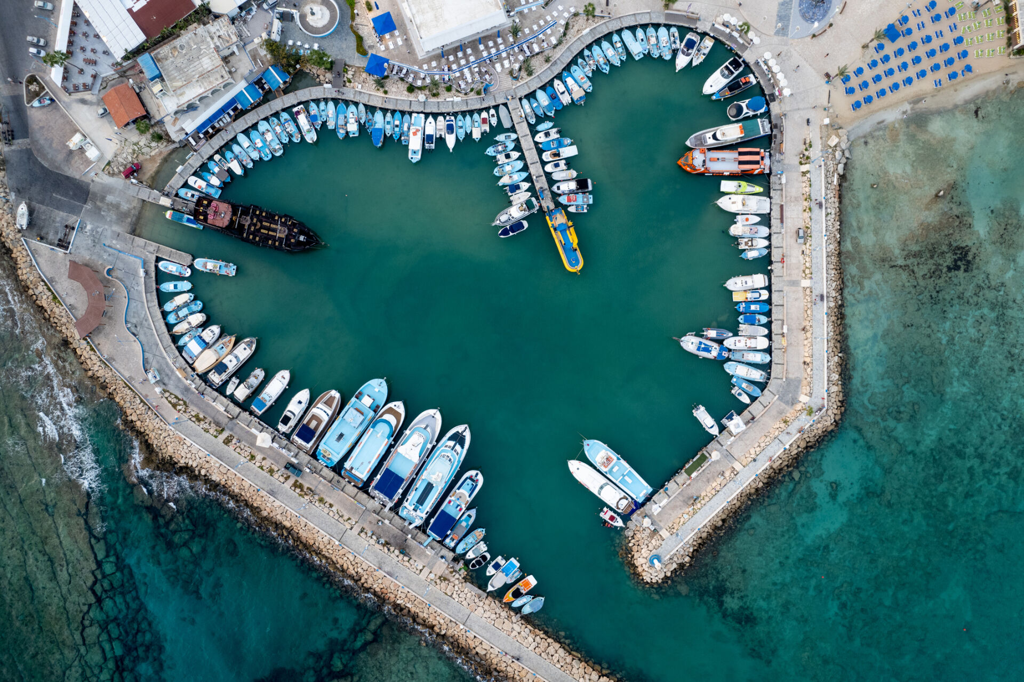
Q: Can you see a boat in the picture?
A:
Yes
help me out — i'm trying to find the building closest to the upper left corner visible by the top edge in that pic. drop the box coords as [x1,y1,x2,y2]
[82,0,147,65]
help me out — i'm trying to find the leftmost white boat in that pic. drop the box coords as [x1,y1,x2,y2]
[17,200,30,228]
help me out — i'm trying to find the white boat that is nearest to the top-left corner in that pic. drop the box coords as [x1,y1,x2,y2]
[66,133,86,151]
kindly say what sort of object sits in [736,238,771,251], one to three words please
boat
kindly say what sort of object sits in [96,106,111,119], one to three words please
vehicle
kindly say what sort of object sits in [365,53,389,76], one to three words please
tent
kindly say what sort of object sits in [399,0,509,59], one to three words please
building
